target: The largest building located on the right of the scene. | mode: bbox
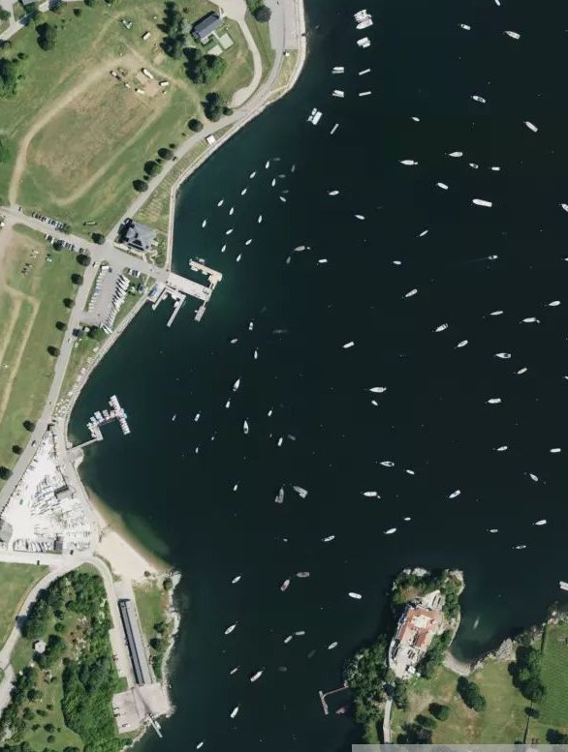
[396,607,442,649]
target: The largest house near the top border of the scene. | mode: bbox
[194,12,224,47]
